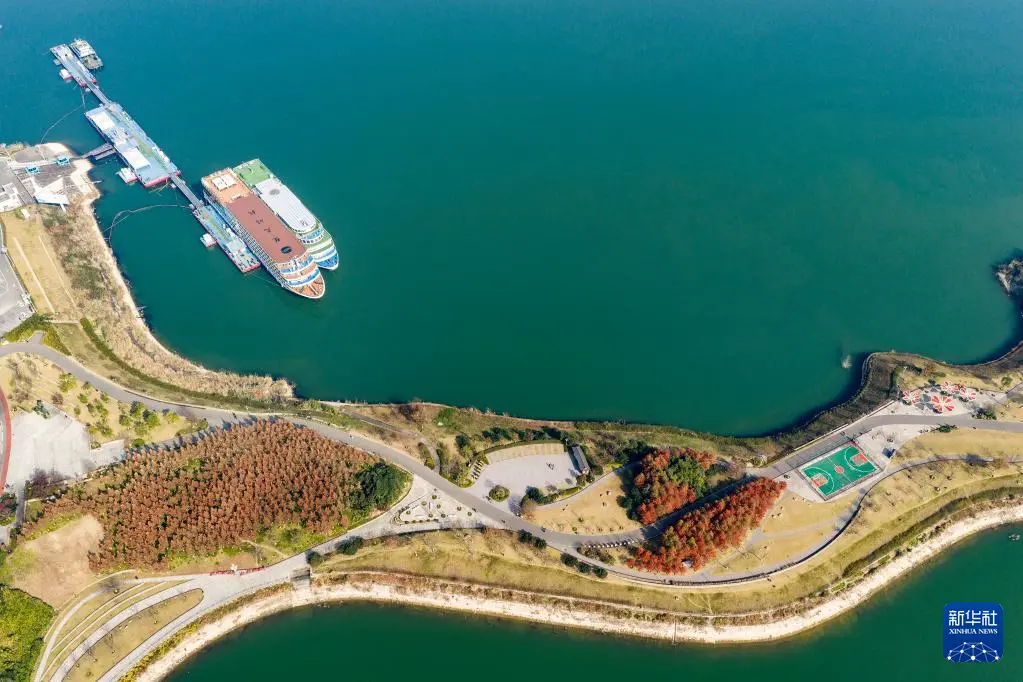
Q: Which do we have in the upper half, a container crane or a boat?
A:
boat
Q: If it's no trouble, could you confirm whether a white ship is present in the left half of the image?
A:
Yes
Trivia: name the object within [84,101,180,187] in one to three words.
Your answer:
pier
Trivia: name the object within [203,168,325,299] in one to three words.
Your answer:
ship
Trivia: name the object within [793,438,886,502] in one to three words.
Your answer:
basketball court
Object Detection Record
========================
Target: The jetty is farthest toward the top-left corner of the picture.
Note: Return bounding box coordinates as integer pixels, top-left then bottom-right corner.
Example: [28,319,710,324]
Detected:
[51,44,98,87]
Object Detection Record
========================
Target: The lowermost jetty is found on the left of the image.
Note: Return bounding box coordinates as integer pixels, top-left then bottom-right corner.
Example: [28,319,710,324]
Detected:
[191,206,261,274]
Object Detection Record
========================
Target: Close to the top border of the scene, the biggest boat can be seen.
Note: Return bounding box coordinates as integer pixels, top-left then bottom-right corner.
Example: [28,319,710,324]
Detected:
[67,34,103,70]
